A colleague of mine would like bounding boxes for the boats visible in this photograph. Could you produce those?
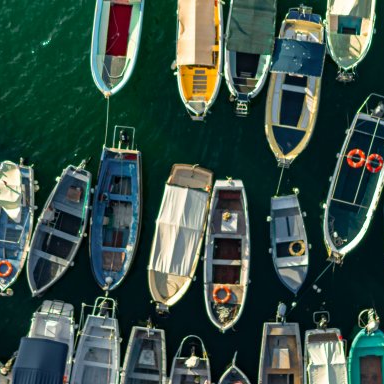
[269,194,310,296]
[27,154,93,297]
[345,309,384,384]
[87,0,143,101]
[172,336,212,384]
[147,163,213,313]
[262,0,327,167]
[87,126,142,295]
[174,0,222,123]
[221,365,249,384]
[11,301,79,384]
[203,180,251,336]
[324,95,384,262]
[326,0,376,79]
[259,307,304,384]
[305,307,348,384]
[121,310,170,384]
[67,296,120,384]
[225,0,276,115]
[0,151,35,296]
